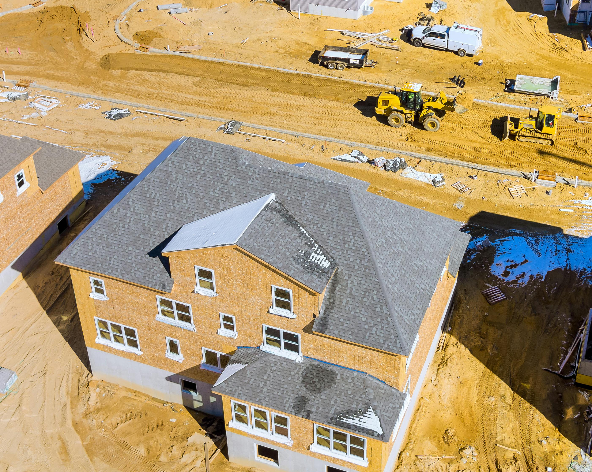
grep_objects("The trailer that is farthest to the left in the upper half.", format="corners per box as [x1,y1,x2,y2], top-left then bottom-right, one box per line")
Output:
[320,45,383,71]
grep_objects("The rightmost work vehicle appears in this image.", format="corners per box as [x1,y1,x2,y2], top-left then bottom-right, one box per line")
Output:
[509,106,557,146]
